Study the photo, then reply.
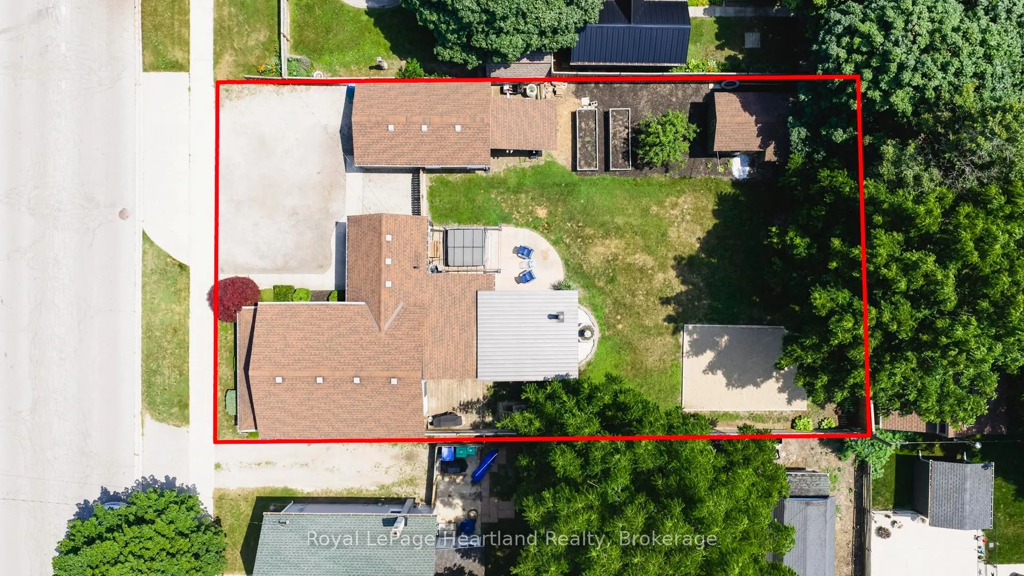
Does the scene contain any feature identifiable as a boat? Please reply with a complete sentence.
Yes, there's a boat down there.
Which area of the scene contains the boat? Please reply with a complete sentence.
The boat is in the bottom part of the image.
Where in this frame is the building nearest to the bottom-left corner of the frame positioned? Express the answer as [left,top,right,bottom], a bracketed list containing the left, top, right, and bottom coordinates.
[254,496,437,576]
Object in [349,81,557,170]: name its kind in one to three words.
building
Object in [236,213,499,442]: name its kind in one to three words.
house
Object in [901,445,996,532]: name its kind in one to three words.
shed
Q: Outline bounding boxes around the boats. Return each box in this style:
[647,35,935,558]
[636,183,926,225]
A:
[472,449,498,481]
